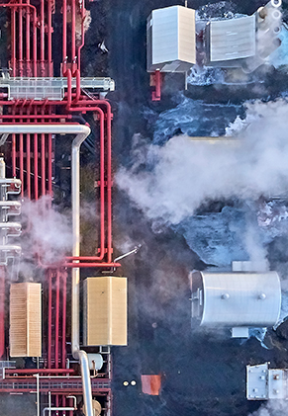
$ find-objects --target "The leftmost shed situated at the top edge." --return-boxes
[145,3,196,72]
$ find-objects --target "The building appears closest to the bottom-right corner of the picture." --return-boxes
[238,363,288,400]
